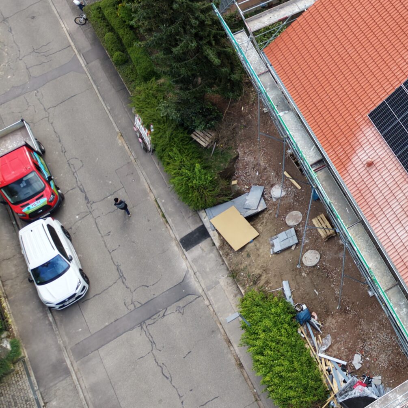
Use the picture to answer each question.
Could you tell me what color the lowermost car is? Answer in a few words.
white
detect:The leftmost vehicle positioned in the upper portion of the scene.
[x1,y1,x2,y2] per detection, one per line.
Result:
[0,107,61,217]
